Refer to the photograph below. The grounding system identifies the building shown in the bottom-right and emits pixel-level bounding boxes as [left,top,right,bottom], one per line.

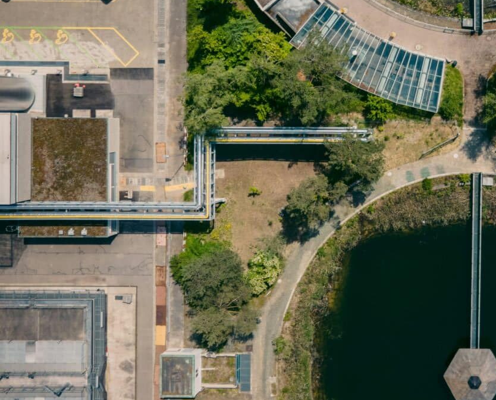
[444,346,496,400]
